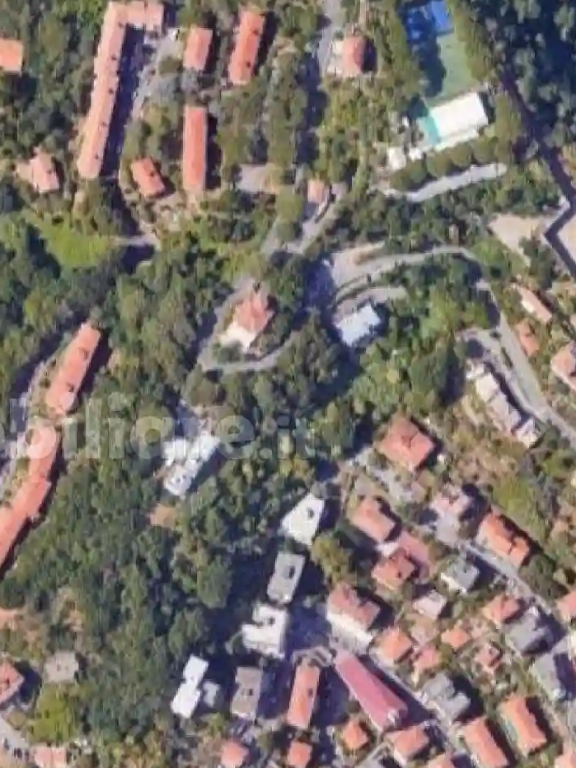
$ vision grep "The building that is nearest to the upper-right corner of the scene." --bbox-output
[424,93,489,144]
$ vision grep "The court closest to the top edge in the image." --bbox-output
[403,0,453,44]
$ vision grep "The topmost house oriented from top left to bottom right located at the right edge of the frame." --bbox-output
[513,284,553,323]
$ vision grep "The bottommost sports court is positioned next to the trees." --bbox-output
[408,32,480,105]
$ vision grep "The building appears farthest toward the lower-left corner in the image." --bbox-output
[33,746,67,768]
